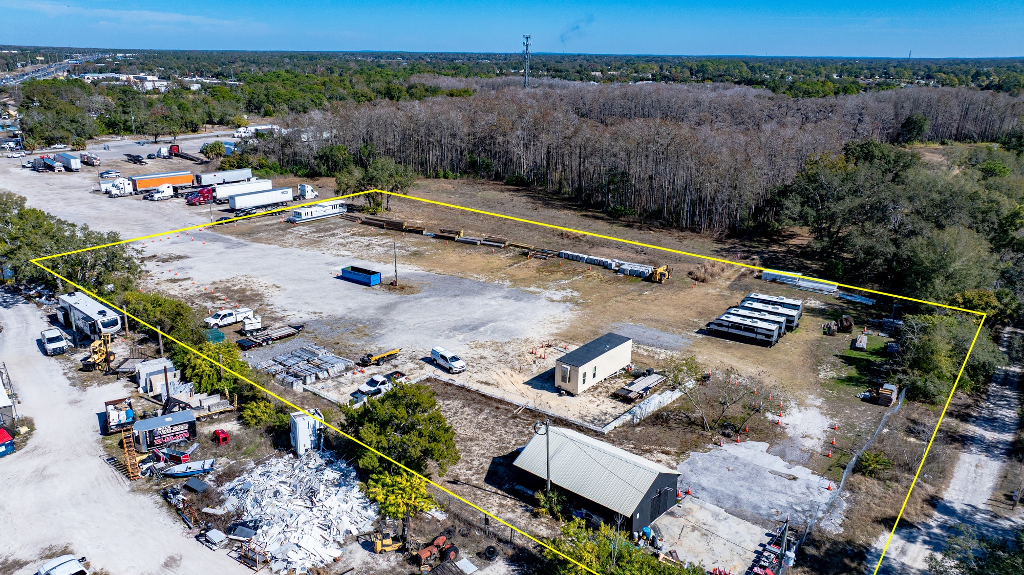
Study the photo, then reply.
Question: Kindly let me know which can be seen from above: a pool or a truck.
truck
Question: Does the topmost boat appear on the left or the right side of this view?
left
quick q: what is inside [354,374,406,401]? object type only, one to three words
truck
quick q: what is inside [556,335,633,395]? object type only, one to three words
trailer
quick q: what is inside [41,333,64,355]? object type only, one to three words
truck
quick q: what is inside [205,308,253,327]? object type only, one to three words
vehicle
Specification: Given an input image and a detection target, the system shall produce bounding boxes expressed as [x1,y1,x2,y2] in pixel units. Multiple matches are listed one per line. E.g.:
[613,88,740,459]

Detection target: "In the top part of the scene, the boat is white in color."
[282,201,340,222]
